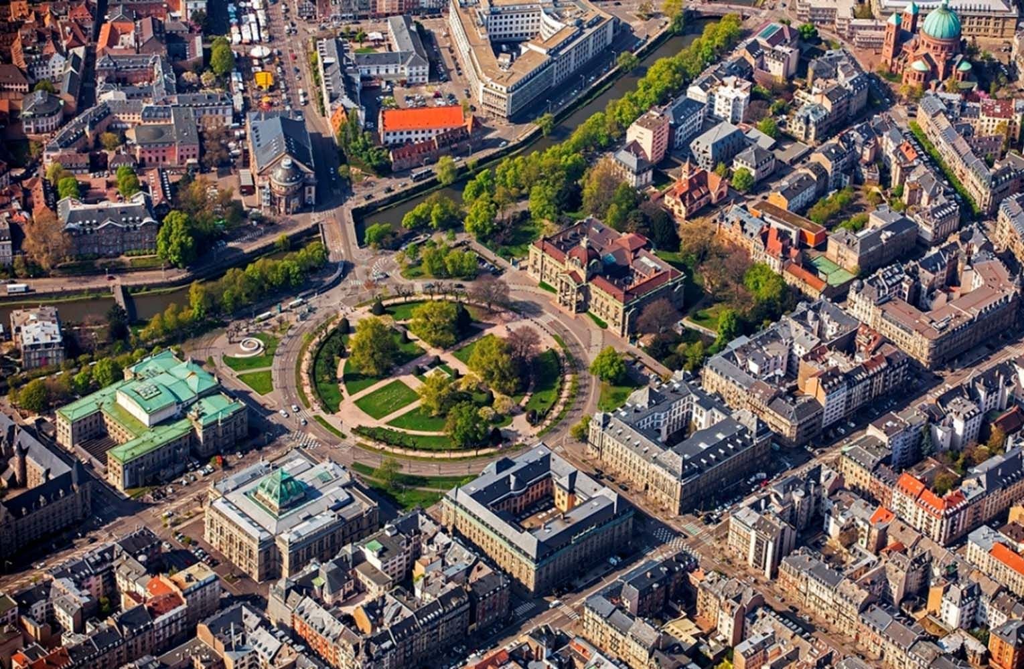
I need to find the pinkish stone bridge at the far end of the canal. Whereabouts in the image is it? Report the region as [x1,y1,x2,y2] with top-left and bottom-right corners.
[679,0,764,23]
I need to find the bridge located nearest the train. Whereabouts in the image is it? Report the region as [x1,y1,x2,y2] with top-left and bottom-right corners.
[320,205,364,252]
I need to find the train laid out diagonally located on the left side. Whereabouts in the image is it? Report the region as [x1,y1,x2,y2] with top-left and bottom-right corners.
[297,261,345,298]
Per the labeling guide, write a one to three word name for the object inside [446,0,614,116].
building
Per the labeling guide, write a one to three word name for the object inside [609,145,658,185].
house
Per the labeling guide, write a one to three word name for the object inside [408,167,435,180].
vehicle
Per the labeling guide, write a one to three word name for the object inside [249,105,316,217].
building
